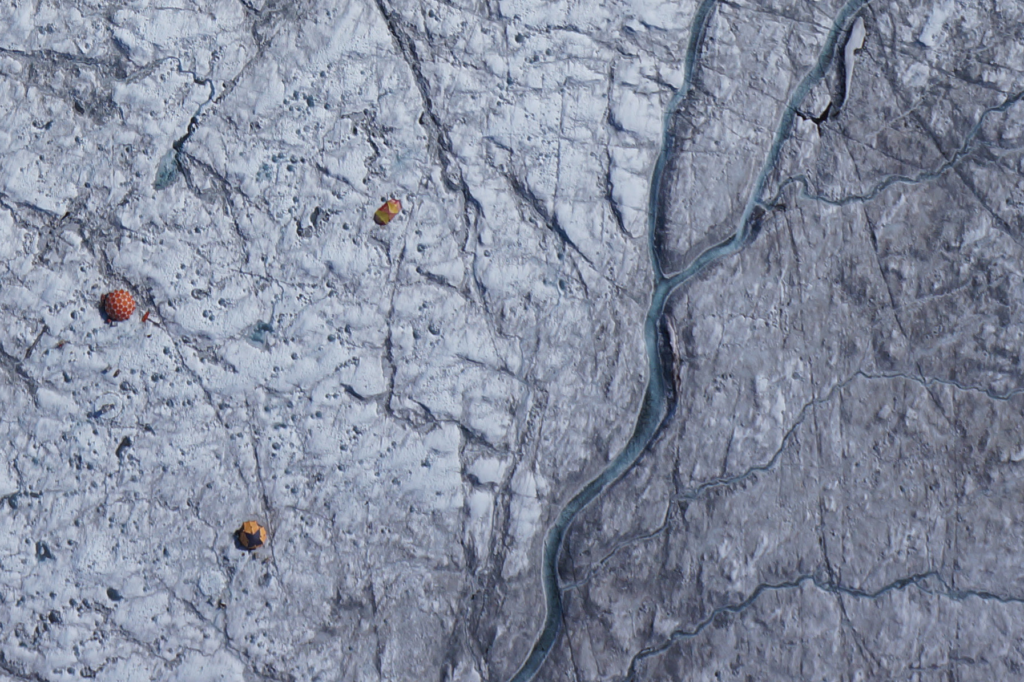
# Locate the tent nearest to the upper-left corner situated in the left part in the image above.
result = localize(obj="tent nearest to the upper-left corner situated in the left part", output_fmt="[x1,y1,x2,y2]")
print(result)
[103,287,137,322]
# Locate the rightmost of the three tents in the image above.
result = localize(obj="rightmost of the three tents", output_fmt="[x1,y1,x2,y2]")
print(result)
[374,199,402,225]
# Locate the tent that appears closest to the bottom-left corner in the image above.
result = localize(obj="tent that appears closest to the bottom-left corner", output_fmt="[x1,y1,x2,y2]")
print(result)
[238,520,266,549]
